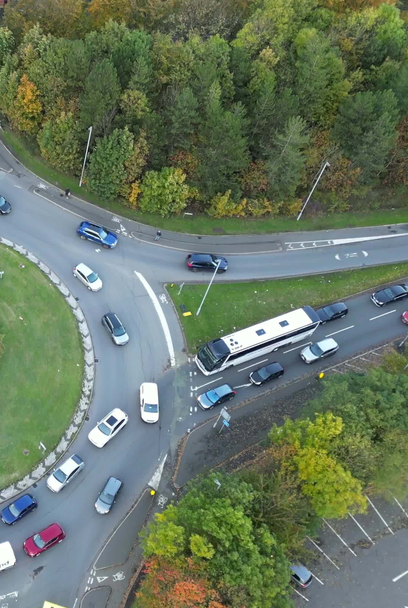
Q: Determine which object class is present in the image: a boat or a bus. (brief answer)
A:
bus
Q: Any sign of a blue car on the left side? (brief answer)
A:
Yes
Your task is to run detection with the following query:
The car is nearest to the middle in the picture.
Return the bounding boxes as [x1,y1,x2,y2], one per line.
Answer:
[186,253,228,275]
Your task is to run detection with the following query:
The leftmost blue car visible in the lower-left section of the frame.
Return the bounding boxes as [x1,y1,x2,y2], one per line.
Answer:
[0,492,39,525]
